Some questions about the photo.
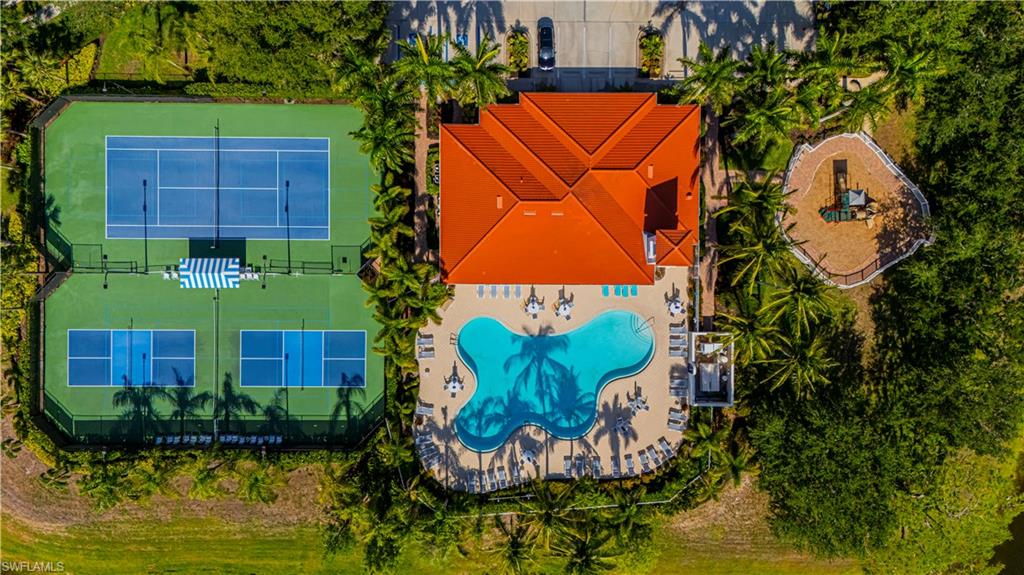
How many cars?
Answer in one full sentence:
The photo contains exactly 1 car.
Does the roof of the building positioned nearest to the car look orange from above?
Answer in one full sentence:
Yes, orange is the color of the roof of the building positioned nearest to the car.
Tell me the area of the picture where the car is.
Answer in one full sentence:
The car is in the top part of the image.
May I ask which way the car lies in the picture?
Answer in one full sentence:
Seen from above, the car lies from top to bottom.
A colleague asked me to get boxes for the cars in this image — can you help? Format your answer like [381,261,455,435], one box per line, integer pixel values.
[536,19,557,69]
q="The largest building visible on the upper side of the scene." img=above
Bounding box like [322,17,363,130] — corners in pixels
[439,92,702,285]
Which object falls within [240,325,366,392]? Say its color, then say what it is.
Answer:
blue sports court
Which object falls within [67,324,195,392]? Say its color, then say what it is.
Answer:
blue sports court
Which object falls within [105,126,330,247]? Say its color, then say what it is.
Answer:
blue tennis court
